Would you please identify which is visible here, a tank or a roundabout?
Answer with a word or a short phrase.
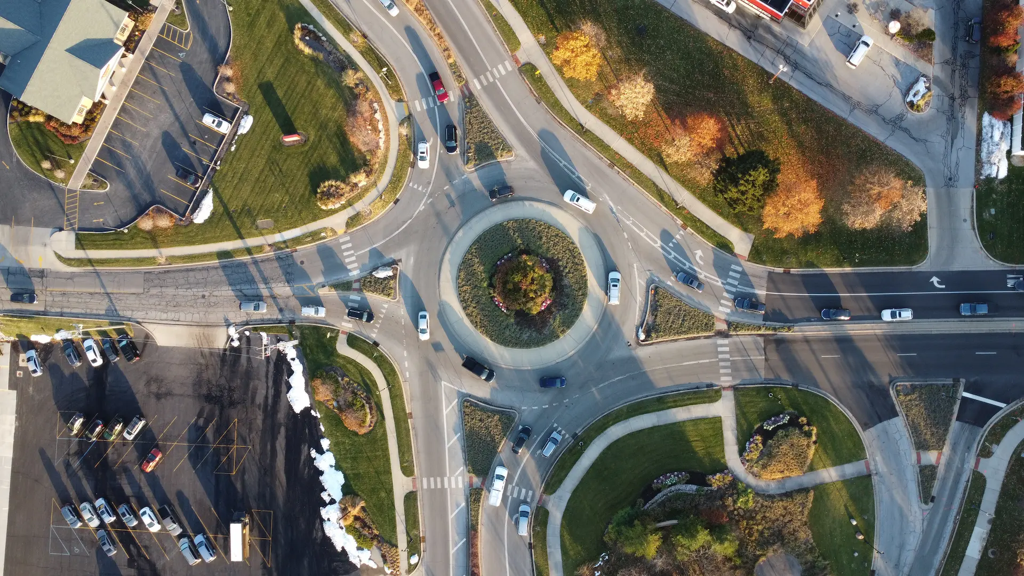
roundabout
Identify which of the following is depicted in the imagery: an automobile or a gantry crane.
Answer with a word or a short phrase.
automobile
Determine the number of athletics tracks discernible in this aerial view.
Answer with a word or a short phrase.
none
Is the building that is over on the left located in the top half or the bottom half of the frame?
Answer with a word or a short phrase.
top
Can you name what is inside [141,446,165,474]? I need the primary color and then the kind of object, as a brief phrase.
red car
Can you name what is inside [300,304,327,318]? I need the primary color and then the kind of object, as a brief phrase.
white car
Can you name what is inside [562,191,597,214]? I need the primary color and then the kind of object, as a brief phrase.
white vehicle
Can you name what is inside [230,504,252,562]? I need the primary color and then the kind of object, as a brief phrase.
white truck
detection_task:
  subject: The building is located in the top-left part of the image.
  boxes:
[0,0,134,124]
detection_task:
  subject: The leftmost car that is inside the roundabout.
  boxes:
[416,311,431,340]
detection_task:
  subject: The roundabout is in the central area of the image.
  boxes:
[404,166,641,402]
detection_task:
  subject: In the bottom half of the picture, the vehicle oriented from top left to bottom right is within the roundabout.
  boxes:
[460,355,497,383]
